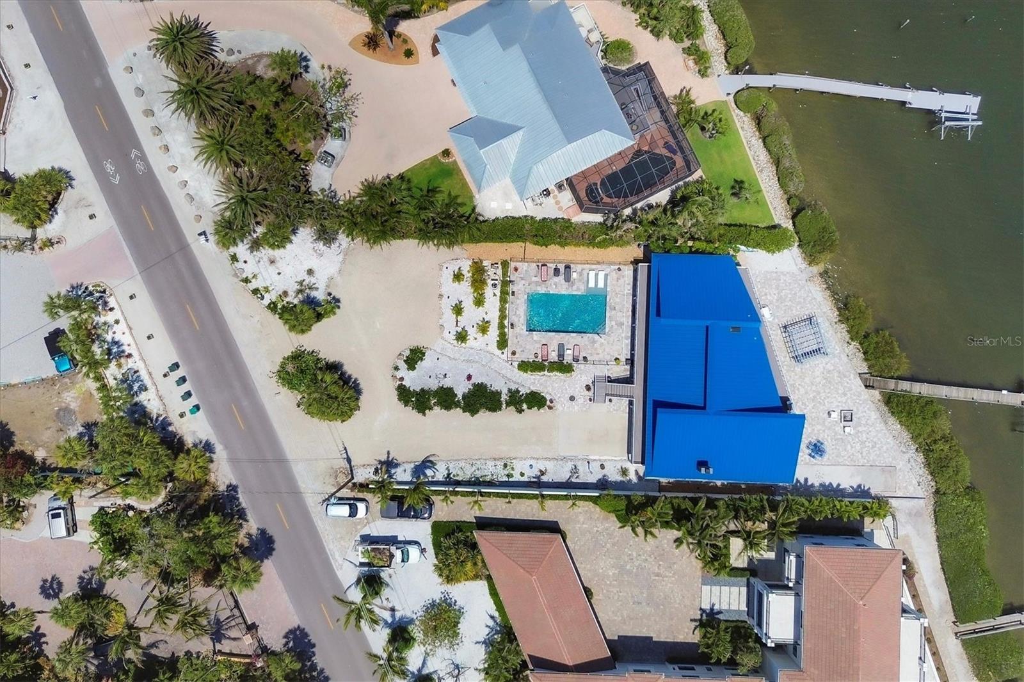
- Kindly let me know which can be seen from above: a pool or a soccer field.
pool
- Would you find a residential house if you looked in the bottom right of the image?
Yes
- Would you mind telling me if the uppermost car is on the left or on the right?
left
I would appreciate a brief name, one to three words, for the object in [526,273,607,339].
swimming pool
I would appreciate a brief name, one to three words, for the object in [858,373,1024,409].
pier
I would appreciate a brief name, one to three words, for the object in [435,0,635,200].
house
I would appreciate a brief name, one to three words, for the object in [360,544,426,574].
truck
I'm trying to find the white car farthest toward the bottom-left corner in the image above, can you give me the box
[47,497,75,541]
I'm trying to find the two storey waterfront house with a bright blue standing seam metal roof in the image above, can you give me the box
[629,253,805,484]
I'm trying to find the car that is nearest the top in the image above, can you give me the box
[35,330,75,374]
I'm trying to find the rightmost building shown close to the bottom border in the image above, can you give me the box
[750,537,930,682]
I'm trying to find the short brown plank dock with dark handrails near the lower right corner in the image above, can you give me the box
[952,609,1024,641]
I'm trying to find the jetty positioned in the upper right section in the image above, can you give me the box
[716,52,981,114]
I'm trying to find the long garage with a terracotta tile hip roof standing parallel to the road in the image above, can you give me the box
[473,529,618,682]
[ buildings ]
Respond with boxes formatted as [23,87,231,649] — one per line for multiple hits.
[750,537,930,682]
[473,529,618,682]
[629,253,805,484]
[435,0,635,200]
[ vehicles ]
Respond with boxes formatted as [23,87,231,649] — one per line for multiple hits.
[360,544,426,574]
[326,500,370,521]
[35,330,75,374]
[47,497,75,541]
[380,499,434,522]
